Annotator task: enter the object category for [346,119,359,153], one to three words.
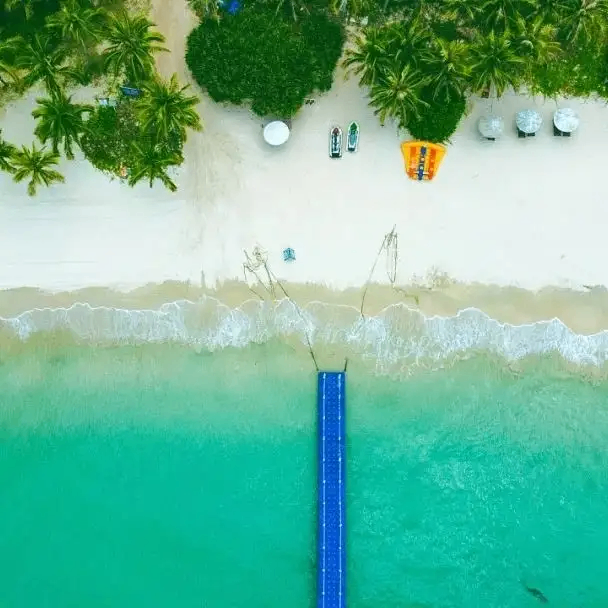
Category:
boat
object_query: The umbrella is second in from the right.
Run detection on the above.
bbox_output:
[517,108,542,134]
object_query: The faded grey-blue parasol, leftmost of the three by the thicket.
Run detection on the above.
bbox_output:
[479,114,504,140]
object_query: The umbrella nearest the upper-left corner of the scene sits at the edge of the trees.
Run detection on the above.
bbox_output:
[264,119,290,146]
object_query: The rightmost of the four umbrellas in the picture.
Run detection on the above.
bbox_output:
[554,107,580,132]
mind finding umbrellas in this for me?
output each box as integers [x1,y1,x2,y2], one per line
[517,108,542,134]
[554,107,580,132]
[479,114,504,140]
[264,119,290,146]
